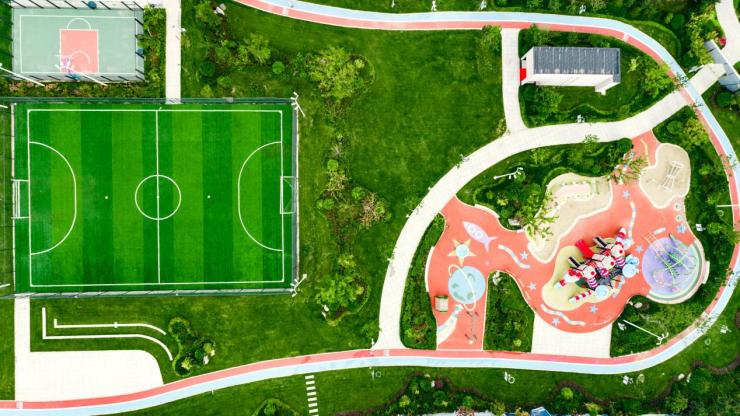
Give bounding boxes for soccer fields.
[13,103,298,294]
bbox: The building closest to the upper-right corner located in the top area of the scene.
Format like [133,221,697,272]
[519,46,620,96]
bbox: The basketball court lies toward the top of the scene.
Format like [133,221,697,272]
[11,5,145,84]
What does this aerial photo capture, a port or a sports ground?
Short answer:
sports ground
